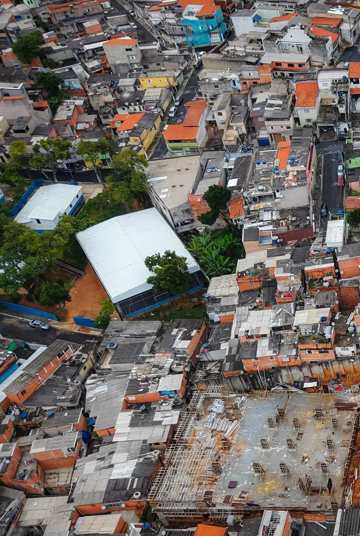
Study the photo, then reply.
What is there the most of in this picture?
buildings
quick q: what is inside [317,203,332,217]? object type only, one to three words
car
